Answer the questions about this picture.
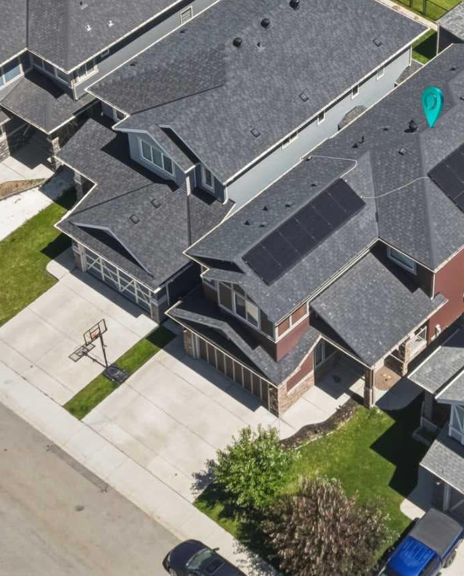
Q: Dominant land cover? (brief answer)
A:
buildings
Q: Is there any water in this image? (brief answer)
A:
No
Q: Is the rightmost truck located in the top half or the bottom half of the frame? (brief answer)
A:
bottom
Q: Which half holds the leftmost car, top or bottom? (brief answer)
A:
bottom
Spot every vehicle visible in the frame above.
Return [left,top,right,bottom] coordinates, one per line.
[366,509,464,576]
[167,540,245,576]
